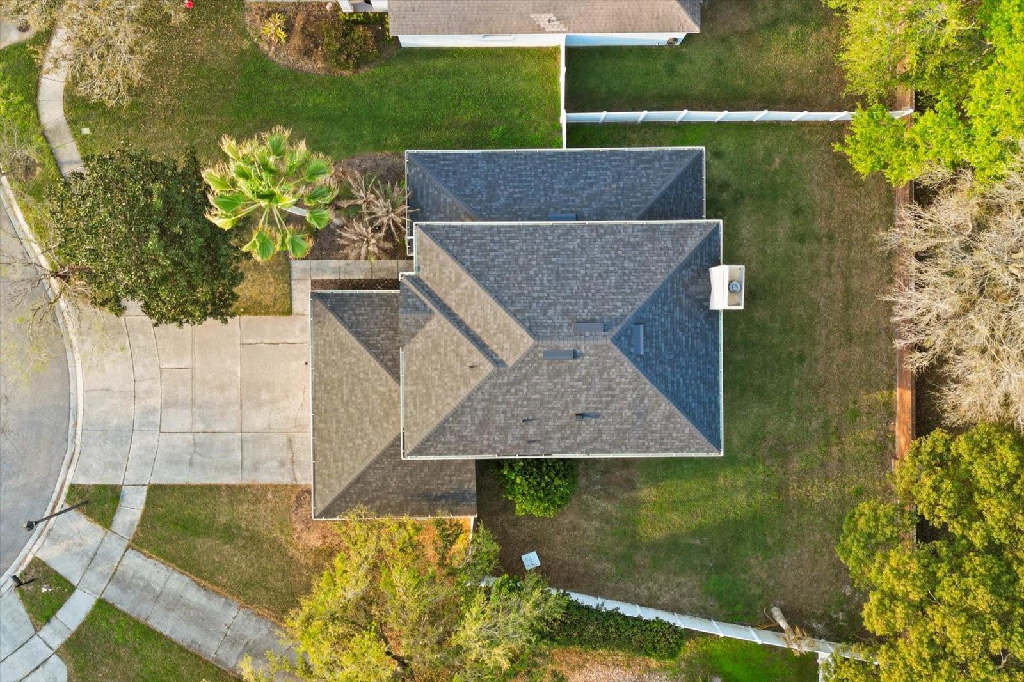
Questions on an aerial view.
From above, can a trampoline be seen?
No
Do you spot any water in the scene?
No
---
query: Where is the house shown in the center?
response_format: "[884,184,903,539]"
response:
[308,146,745,522]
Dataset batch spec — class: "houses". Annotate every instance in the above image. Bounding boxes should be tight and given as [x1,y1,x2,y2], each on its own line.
[308,146,745,522]
[335,0,703,47]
